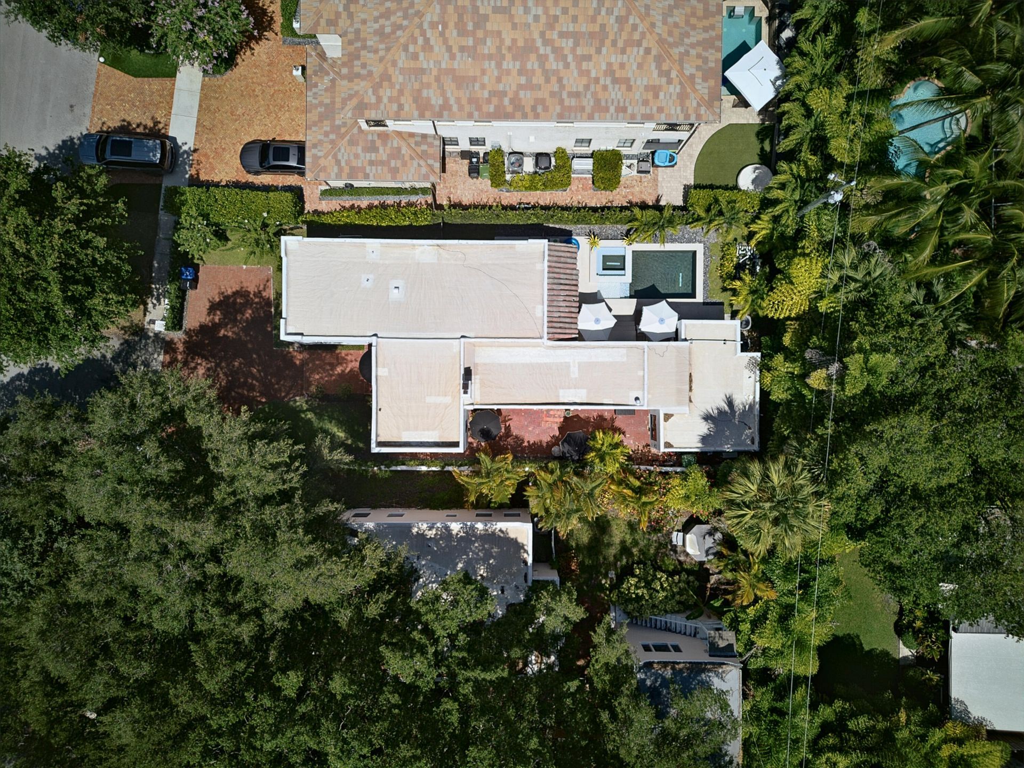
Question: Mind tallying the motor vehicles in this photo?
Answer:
2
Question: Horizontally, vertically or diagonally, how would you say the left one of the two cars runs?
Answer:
horizontally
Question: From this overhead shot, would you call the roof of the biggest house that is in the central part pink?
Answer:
No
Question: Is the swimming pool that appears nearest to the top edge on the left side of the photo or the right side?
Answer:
right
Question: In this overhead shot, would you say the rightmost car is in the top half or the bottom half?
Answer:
top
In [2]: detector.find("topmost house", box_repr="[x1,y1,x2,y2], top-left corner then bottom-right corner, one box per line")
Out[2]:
[297,0,722,188]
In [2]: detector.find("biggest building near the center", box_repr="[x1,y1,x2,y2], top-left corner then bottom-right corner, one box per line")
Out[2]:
[281,235,760,452]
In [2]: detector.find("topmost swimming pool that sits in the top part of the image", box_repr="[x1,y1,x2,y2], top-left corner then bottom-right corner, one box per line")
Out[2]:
[722,8,761,96]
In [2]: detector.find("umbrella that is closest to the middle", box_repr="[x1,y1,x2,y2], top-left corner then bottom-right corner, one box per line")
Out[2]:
[470,410,501,440]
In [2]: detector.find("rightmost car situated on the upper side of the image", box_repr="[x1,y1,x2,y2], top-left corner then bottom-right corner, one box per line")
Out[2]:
[241,134,305,179]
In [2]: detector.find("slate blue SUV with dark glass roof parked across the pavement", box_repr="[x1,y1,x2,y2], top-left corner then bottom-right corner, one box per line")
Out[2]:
[82,129,177,178]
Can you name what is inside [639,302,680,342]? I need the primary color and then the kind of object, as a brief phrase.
white umbrella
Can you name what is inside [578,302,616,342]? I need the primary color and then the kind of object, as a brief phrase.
white umbrella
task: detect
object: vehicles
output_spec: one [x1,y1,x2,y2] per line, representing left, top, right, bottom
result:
[82,129,177,178]
[241,134,305,179]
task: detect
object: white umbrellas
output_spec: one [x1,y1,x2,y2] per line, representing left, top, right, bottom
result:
[723,40,793,111]
[578,302,616,342]
[639,302,680,342]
